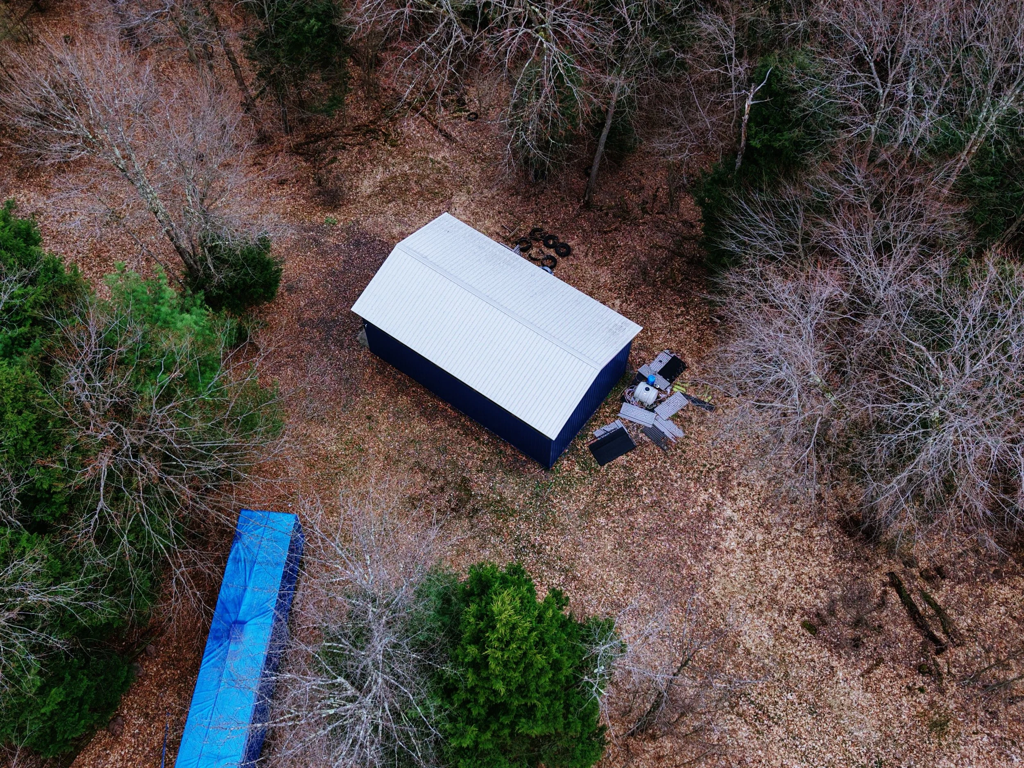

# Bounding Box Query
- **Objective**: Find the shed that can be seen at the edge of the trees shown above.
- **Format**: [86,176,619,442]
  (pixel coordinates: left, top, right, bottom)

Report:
[350,210,644,470]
